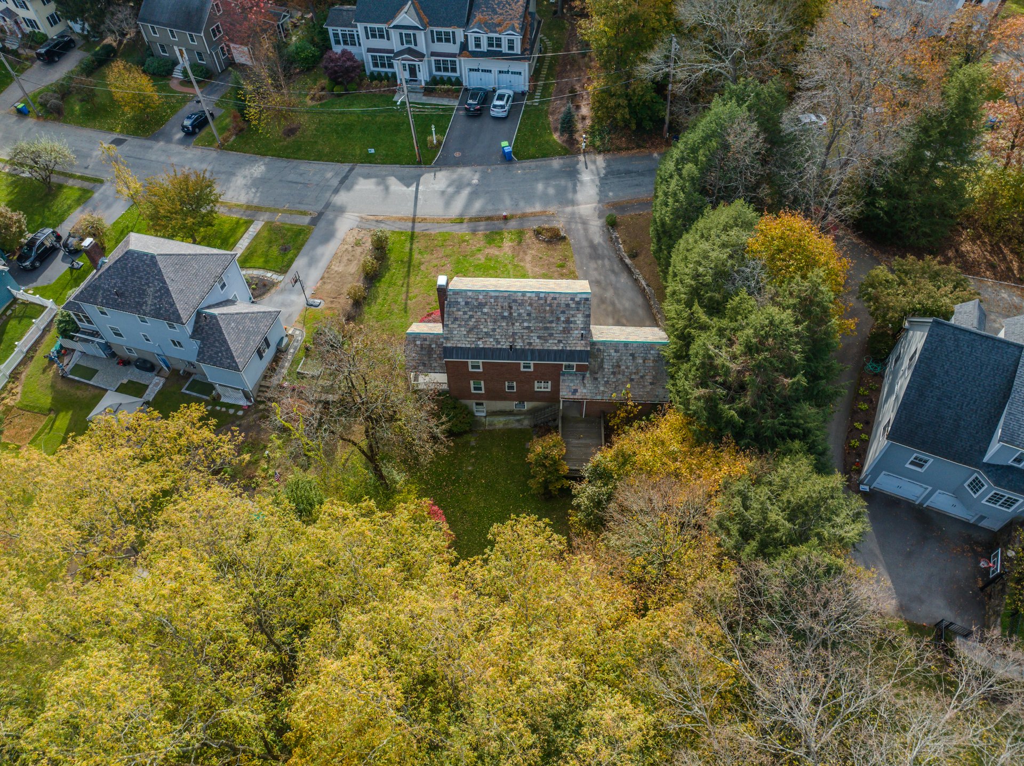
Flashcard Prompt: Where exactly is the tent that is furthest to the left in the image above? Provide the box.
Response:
[85,389,153,441]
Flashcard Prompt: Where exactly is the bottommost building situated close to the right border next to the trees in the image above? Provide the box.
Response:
[859,298,1024,541]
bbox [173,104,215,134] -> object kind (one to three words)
car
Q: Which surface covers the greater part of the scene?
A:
trees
